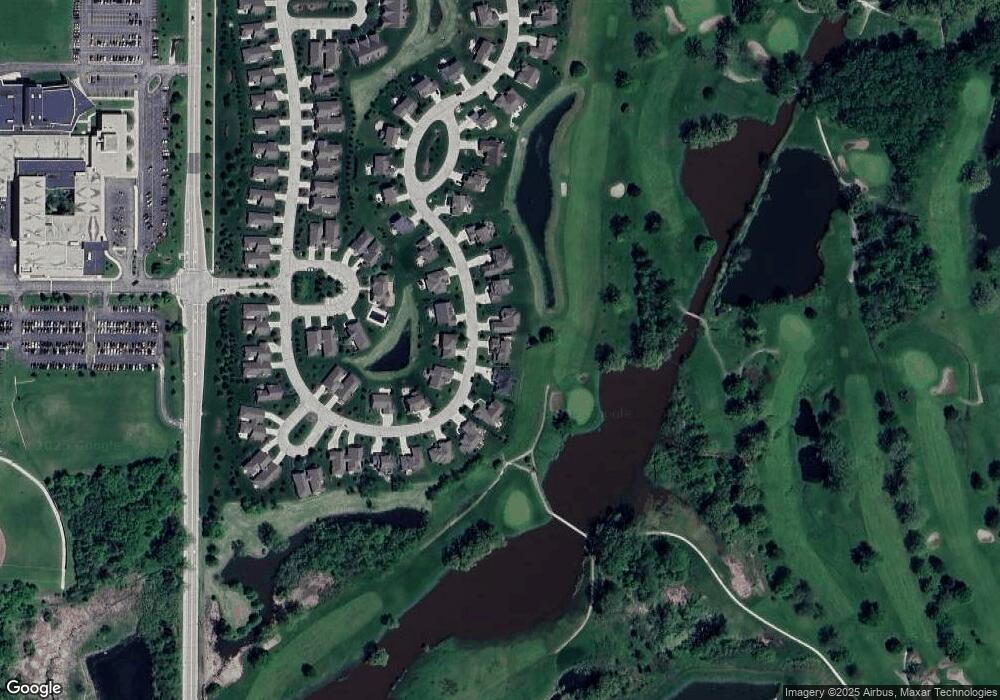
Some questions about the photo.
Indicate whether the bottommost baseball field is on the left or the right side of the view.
left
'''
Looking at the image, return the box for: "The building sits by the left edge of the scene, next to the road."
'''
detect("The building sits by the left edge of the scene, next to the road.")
[0,78,127,277]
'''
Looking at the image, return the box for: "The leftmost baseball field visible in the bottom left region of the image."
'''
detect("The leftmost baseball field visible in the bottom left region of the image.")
[0,464,61,589]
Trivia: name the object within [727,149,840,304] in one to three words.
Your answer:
pond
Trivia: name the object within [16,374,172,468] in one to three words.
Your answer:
sports field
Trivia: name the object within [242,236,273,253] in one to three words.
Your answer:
house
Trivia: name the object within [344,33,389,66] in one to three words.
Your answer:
building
